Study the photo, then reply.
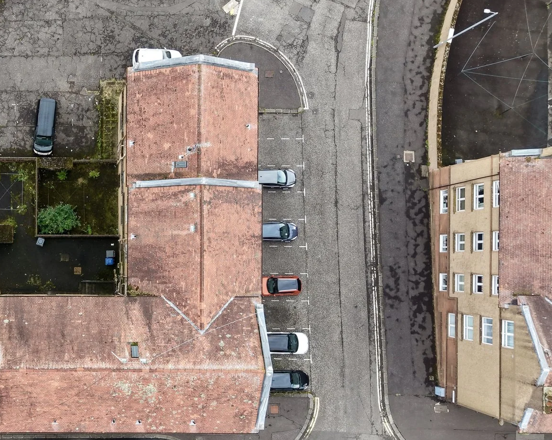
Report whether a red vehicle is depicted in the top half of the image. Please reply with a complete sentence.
No, looking in the top half of the image, there is no red vehicle.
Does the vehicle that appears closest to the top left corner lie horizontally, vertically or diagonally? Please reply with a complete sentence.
What the image shows is the vehicle that appears closest to the top left corner lying vertically.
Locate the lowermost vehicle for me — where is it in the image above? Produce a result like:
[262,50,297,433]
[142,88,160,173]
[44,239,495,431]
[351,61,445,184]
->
[274,369,310,395]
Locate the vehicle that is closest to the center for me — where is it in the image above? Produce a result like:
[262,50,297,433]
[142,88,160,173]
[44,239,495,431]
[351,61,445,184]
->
[262,219,297,246]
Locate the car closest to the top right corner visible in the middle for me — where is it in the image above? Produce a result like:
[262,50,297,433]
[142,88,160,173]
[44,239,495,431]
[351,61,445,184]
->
[260,165,296,191]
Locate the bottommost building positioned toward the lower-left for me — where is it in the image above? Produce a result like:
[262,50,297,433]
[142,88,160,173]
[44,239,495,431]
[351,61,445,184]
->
[0,294,277,435]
